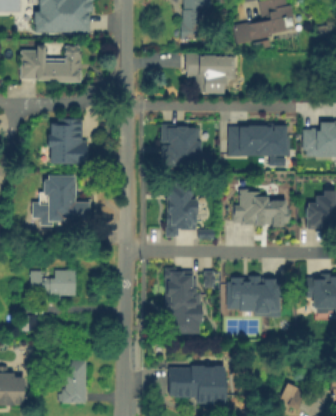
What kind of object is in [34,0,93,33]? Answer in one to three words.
house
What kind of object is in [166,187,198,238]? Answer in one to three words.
house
